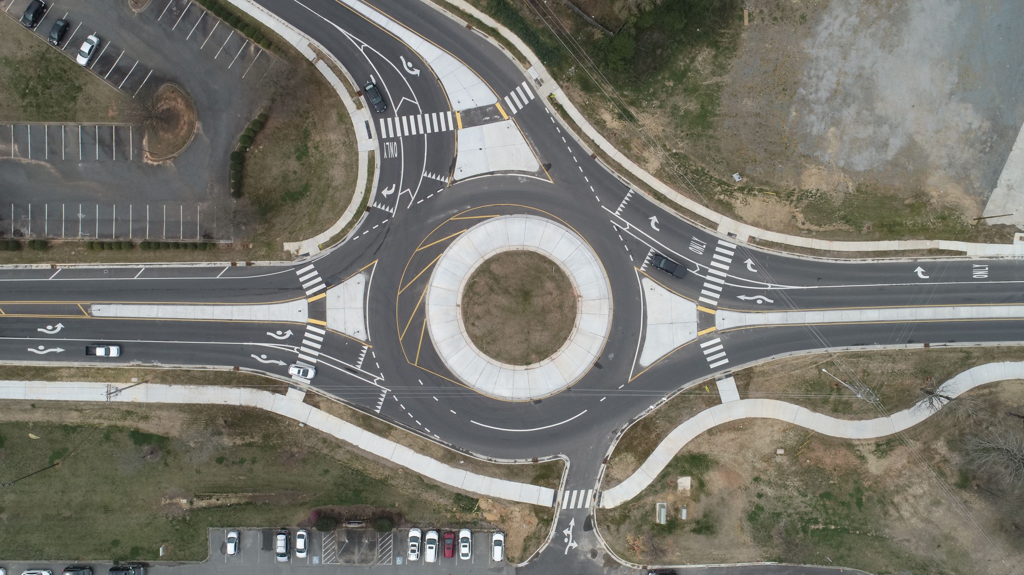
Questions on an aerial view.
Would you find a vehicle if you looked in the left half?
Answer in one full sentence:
Yes, I can see a vehicle in the left half.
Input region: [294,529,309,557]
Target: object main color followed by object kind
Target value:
white car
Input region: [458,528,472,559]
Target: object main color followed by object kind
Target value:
white car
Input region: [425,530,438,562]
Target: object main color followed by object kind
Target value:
white vehicle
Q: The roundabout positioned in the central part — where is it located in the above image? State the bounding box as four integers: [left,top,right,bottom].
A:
[401,190,637,426]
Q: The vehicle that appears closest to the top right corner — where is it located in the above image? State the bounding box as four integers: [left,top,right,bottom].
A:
[651,255,687,279]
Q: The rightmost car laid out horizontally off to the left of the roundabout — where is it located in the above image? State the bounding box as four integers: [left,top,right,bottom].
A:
[288,363,317,379]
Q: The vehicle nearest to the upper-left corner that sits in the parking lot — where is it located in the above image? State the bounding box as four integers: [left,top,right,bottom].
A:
[21,0,46,28]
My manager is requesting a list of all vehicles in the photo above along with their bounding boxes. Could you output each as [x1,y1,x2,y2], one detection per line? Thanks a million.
[294,529,309,557]
[651,255,687,279]
[407,528,422,560]
[21,0,46,28]
[227,529,241,556]
[365,82,386,113]
[444,531,456,558]
[109,566,146,575]
[491,531,504,562]
[0,567,7,575]
[47,17,69,46]
[275,529,290,561]
[75,35,99,65]
[21,568,53,575]
[288,363,317,379]
[84,345,122,358]
[61,567,93,575]
[425,530,438,562]
[458,528,472,559]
